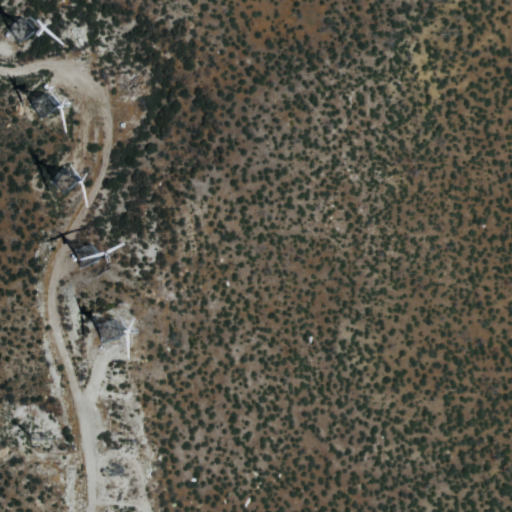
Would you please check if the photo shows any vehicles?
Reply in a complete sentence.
No, there's no vehicle here.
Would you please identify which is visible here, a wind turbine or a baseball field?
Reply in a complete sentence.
Looking from above, you can make out a wind turbine.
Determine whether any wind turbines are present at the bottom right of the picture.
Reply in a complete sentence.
No, there's no wind turbine to be seen at the bottom right of the picture.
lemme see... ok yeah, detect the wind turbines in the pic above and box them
[99,316,140,359]
[30,92,72,134]
[74,244,125,270]
[50,167,92,209]
[11,18,66,48]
